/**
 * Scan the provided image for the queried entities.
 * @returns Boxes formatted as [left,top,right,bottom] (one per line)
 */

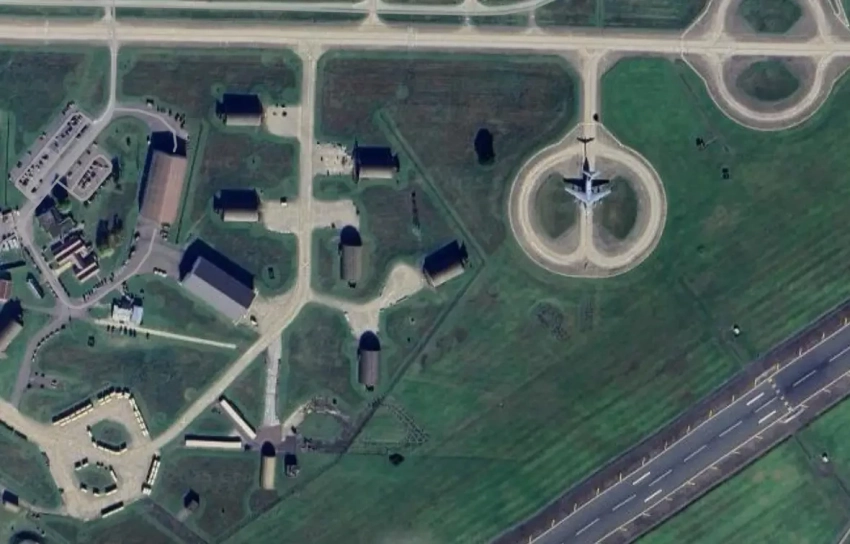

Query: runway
[486,296,850,544]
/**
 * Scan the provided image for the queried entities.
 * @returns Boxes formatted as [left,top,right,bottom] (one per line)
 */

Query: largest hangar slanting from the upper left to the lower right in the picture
[182,259,254,321]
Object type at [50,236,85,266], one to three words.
building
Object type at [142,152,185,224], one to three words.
hangar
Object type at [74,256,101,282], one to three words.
building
